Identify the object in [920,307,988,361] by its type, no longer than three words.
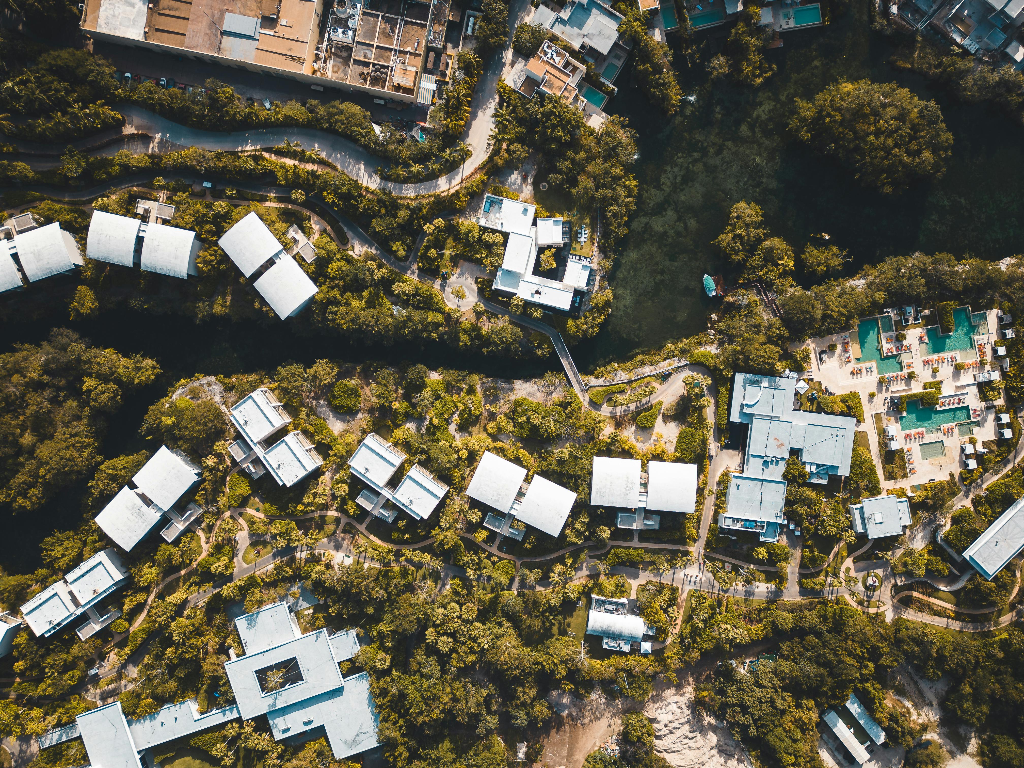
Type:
swimming pool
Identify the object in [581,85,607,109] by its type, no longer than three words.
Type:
swimming pool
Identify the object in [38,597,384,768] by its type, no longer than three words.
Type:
building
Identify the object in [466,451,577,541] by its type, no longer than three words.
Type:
house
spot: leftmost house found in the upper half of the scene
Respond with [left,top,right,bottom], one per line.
[0,213,83,299]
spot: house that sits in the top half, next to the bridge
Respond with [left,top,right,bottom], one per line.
[479,194,598,313]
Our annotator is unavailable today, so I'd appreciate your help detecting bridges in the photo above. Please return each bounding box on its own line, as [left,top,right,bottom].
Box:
[550,334,586,392]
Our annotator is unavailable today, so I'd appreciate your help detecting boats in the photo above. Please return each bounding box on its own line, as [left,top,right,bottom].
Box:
[702,276,716,299]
